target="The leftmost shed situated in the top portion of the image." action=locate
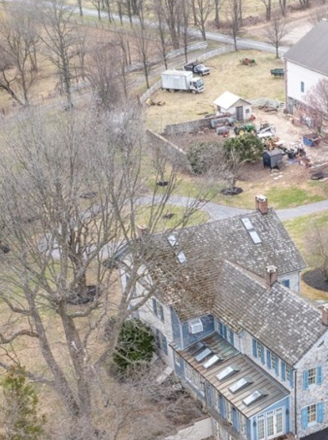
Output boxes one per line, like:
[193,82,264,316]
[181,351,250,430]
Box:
[212,89,257,121]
